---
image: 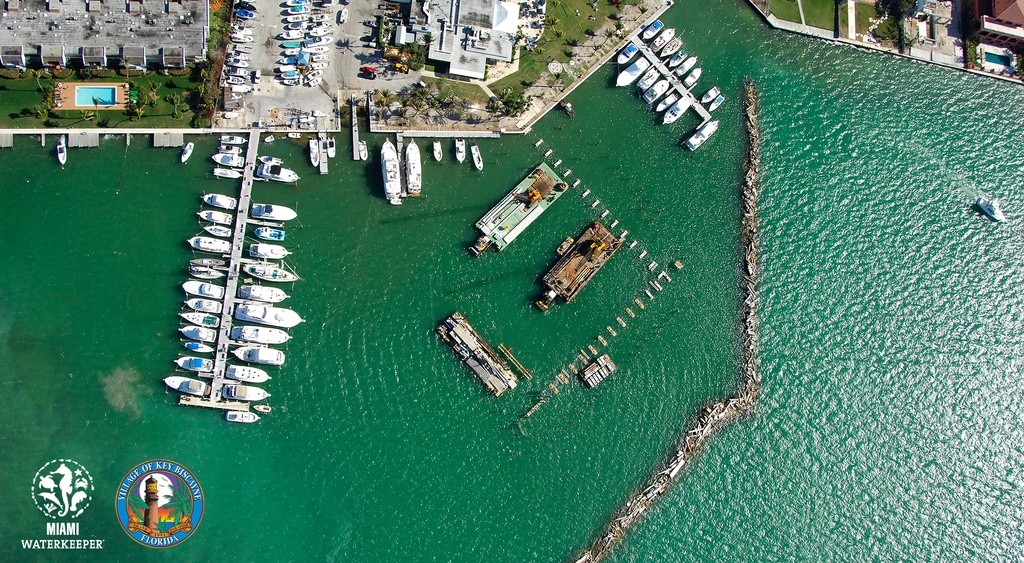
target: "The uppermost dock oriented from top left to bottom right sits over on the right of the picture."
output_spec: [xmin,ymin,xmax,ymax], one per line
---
[630,32,712,130]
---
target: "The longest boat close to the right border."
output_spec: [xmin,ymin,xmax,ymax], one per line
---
[973,196,1005,221]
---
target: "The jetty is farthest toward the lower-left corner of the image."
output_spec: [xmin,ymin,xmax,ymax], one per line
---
[178,397,250,411]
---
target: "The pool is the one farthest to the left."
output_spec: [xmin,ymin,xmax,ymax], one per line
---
[55,83,129,110]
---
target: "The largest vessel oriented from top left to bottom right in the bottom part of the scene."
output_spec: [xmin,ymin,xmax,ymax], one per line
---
[436,312,518,398]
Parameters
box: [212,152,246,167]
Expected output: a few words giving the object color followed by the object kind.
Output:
white boat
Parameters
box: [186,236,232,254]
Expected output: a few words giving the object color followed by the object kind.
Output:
white boat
